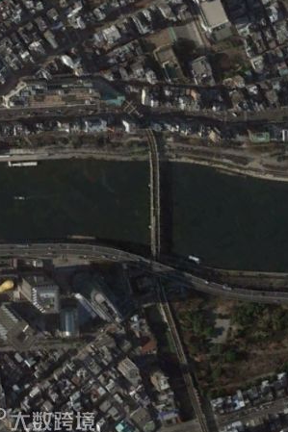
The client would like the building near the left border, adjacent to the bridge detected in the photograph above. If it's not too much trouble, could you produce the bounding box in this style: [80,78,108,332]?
[1,80,102,109]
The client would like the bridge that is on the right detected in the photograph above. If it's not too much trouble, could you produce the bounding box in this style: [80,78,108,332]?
[140,114,213,432]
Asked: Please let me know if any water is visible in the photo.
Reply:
Yes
